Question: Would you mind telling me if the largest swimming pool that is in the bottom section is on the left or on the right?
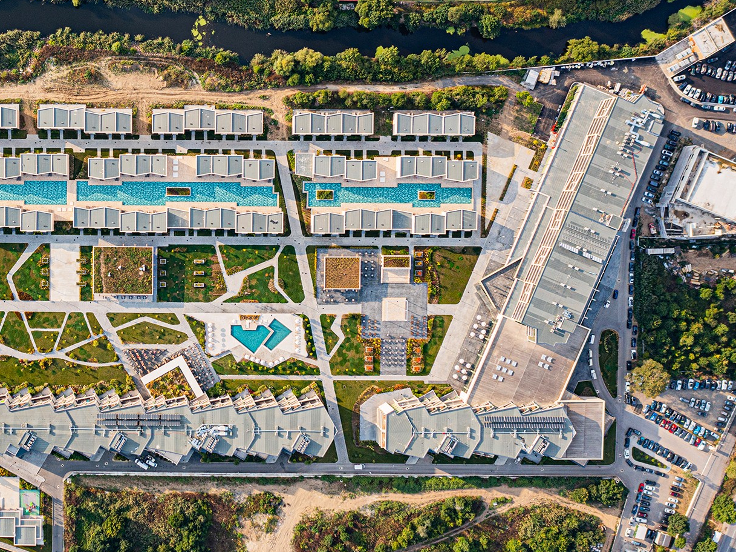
left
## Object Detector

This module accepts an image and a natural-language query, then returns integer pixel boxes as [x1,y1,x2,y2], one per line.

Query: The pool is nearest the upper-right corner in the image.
[303,182,473,208]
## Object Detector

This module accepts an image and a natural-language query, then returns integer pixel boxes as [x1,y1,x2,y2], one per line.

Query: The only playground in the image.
[19,490,40,516]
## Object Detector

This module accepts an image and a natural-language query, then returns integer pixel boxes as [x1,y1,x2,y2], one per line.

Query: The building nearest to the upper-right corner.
[649,18,735,80]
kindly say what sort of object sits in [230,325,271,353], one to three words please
swimming pool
